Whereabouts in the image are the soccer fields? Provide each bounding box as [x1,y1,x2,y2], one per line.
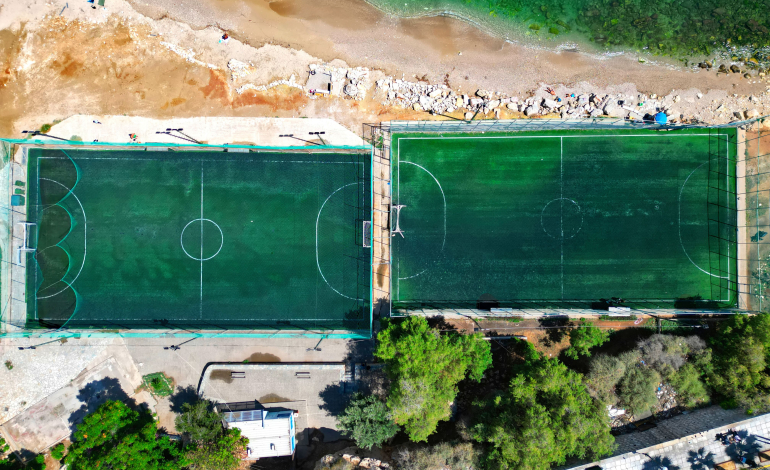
[393,131,737,309]
[28,148,371,329]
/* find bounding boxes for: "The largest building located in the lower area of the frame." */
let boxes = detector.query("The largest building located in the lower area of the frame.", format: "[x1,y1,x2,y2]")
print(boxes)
[221,394,297,459]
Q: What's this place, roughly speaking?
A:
sports ground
